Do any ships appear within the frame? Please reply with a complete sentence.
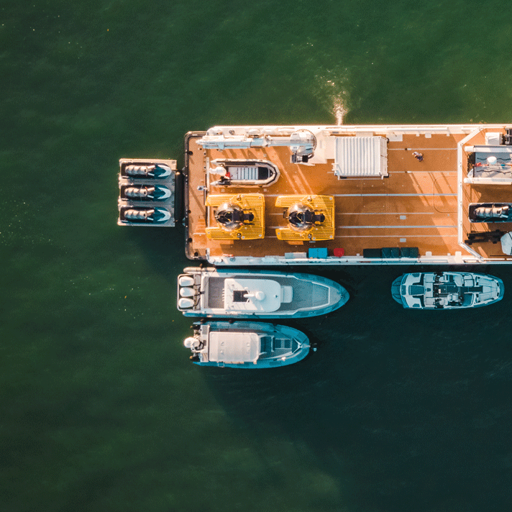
Yes, there is a ship in the image.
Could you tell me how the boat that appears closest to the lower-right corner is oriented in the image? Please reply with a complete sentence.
In this picture, the boat that appears closest to the lower-right corner lies horizontally.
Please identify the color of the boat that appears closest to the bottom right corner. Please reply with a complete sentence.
The boat that appears closest to the bottom right corner is blue.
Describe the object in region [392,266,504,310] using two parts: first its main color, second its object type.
blue boat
